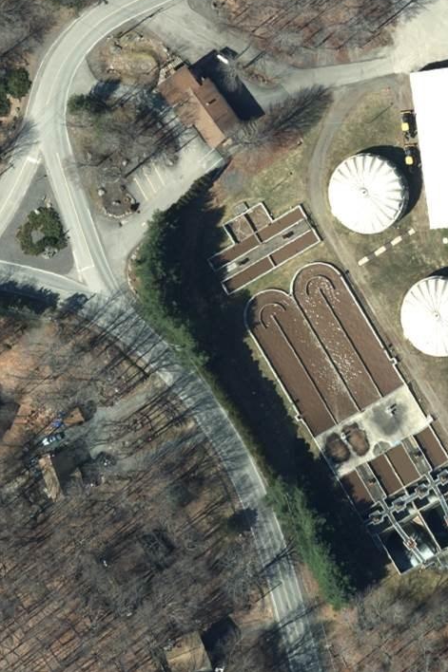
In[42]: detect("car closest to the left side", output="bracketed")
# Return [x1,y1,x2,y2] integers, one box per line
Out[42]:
[25,450,42,470]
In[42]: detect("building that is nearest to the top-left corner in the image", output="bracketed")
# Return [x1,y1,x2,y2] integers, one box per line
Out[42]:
[159,60,244,147]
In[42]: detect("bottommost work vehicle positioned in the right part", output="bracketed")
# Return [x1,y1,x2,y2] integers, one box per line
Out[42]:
[402,138,416,165]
